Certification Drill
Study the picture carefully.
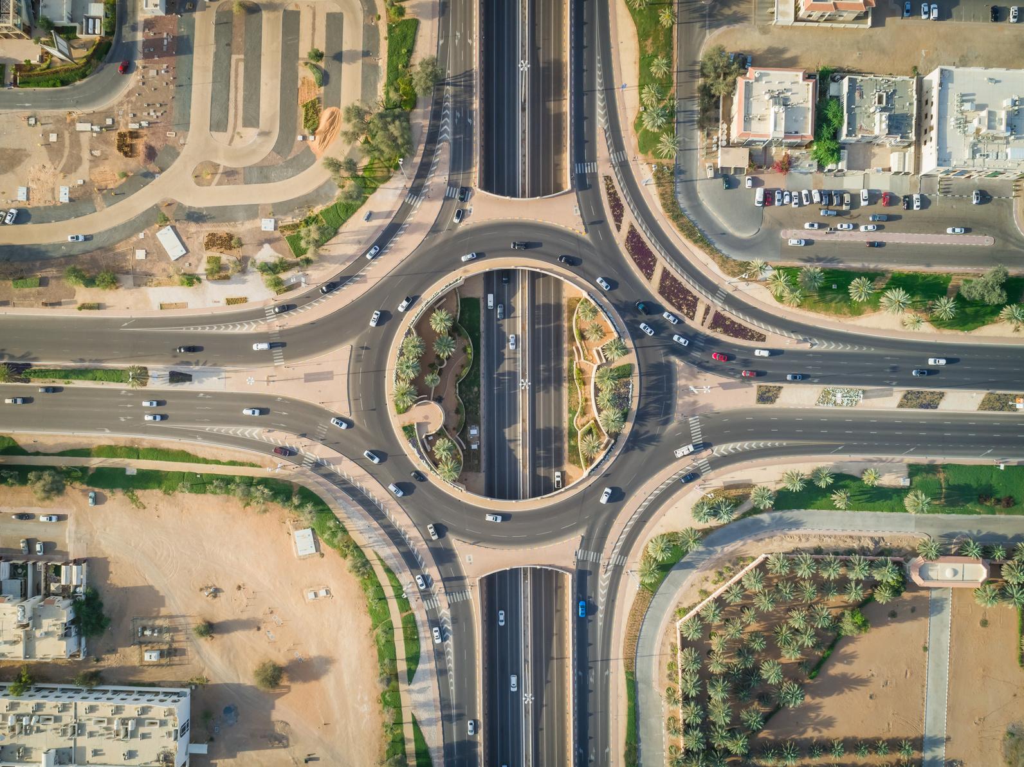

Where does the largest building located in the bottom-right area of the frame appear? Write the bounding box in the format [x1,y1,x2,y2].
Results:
[902,553,992,588]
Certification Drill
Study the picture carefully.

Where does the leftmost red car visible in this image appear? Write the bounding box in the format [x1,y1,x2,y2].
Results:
[118,59,131,75]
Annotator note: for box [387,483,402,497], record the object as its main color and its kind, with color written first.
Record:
white car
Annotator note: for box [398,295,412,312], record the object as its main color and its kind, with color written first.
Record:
white vehicle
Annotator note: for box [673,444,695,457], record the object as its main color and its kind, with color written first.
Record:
white vehicle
